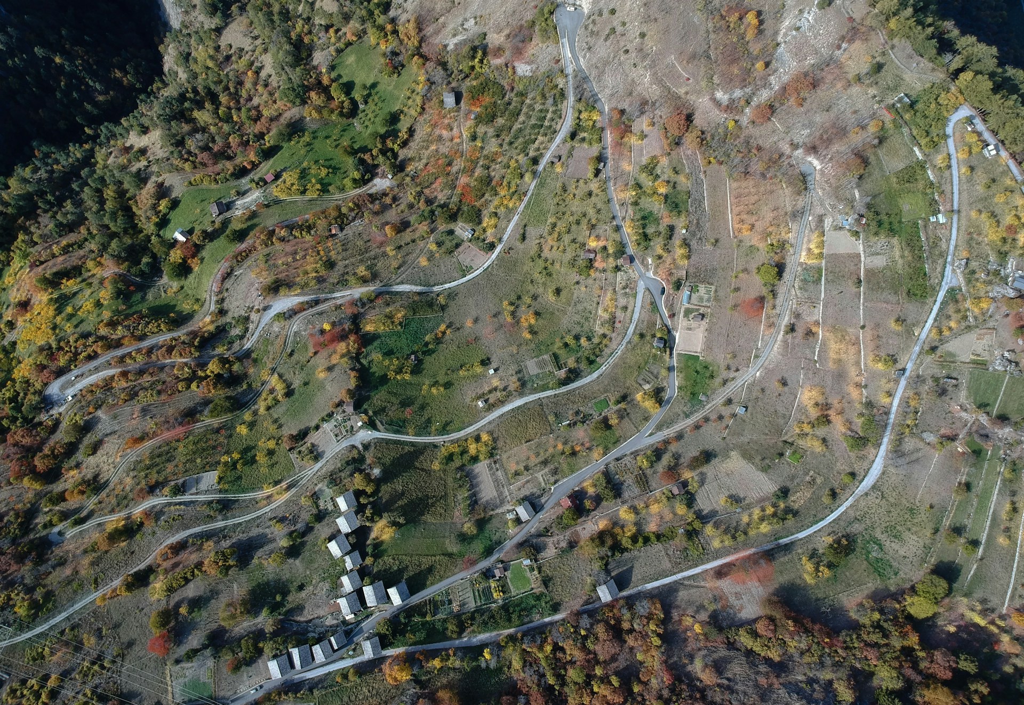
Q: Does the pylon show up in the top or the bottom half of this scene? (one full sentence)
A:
The pylon sits in the bottom half of the picture.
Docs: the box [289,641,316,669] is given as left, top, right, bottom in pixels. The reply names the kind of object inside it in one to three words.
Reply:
barn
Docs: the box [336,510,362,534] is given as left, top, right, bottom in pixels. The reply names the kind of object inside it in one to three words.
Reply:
barn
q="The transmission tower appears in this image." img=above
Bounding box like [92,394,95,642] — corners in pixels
[0,621,42,656]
